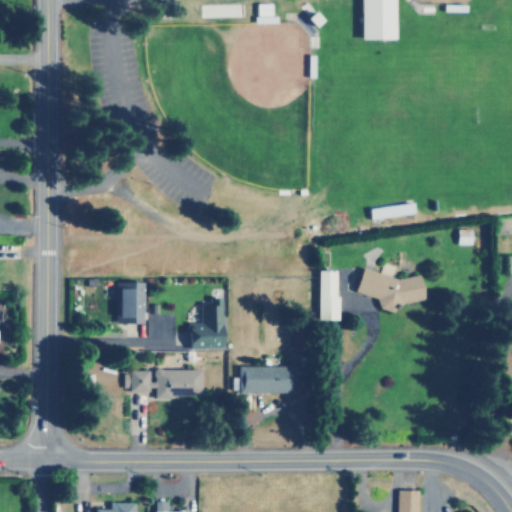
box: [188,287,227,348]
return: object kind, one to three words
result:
house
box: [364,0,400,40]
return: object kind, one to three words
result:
barn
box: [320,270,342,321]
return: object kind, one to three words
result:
building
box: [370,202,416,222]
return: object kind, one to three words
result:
shed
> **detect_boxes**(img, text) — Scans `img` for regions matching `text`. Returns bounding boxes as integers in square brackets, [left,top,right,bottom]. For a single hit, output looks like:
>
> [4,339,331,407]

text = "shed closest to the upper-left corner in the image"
[201,4,246,19]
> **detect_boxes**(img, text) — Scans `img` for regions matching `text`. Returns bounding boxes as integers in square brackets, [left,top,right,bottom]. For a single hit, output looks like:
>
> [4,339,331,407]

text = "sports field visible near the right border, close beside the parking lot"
[310,0,512,228]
